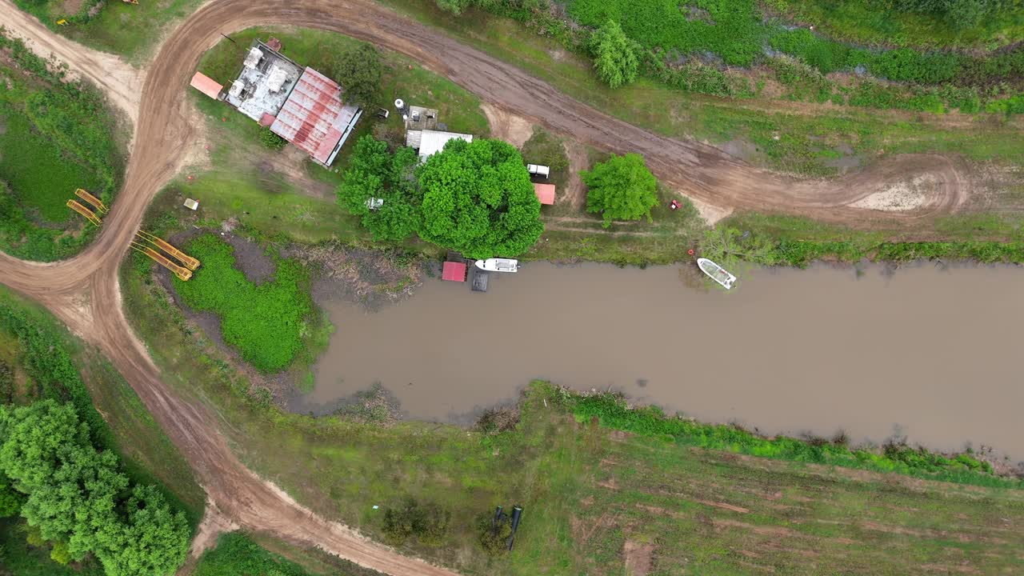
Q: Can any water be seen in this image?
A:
Yes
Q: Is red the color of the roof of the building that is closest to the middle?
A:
Yes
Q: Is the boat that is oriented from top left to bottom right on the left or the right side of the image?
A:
right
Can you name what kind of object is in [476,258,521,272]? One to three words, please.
boat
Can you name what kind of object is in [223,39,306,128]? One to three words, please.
house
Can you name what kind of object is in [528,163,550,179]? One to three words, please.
vehicle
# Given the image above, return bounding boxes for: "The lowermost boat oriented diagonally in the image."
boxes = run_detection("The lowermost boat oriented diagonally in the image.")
[699,253,737,291]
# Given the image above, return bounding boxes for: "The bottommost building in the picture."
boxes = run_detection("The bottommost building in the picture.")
[442,260,469,282]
